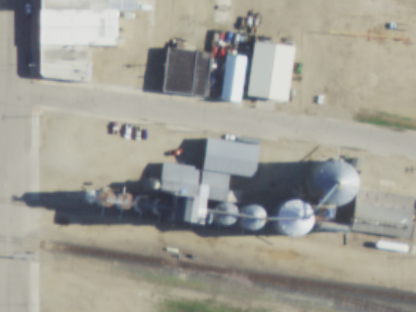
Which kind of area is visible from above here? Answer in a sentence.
The picture captures an industrial area.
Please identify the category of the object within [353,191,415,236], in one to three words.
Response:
shed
